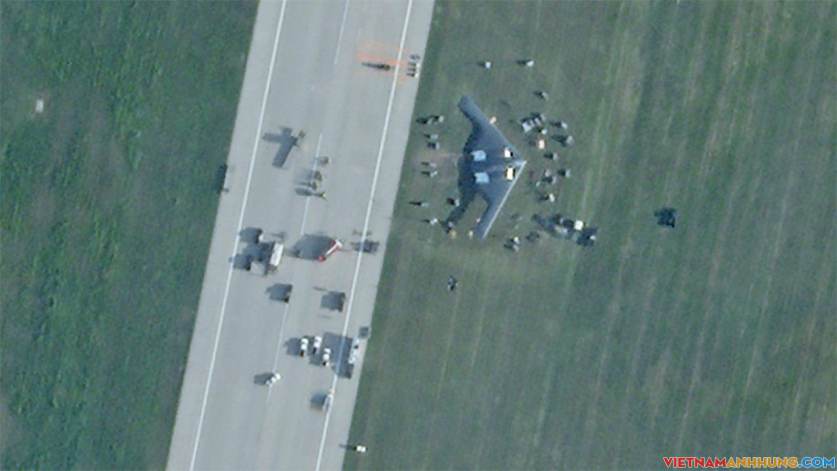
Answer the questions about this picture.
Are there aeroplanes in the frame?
Yes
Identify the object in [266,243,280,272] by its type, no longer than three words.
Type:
vehicle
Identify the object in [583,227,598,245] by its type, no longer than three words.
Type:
vehicle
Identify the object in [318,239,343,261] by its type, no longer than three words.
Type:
truck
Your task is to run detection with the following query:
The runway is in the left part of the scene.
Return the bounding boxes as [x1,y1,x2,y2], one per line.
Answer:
[167,0,435,471]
